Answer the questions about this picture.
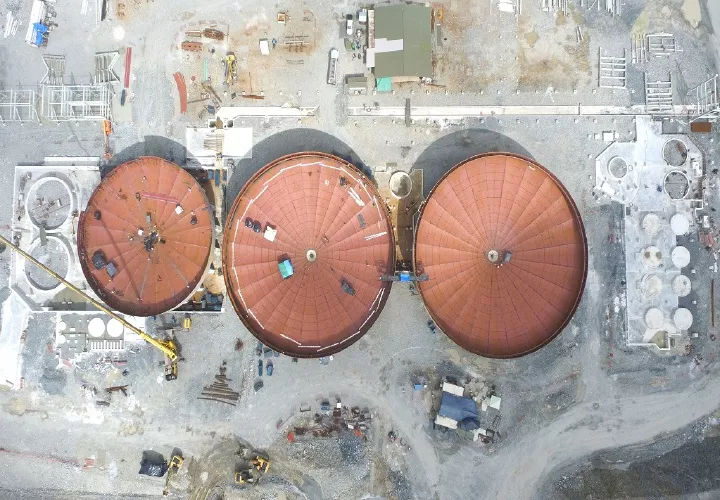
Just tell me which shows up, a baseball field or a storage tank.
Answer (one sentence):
It is a storage tank that can be seen here.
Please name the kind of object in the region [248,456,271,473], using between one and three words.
work vehicle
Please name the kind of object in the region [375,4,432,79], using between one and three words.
building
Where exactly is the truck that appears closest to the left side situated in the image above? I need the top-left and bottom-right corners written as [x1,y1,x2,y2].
[18,0,46,46]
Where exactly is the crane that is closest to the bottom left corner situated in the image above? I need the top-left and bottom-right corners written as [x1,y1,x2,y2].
[0,231,192,383]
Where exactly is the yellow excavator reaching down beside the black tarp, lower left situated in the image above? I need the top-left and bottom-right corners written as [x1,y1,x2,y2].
[165,456,182,489]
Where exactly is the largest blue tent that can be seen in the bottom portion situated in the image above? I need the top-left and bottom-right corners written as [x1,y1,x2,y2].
[439,392,480,429]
